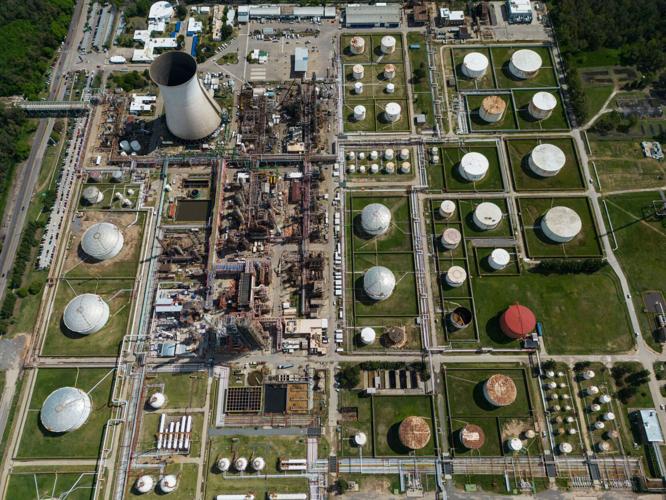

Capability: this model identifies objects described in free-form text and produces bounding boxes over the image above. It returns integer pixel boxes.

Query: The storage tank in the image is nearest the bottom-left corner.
[43,388,92,436]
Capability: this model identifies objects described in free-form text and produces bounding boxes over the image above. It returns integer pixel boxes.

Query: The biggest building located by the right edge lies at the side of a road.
[637,409,665,442]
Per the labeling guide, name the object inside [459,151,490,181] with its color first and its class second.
white storage tank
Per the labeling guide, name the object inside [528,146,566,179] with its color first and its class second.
white storage tank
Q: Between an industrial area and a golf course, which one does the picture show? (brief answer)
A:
industrial area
